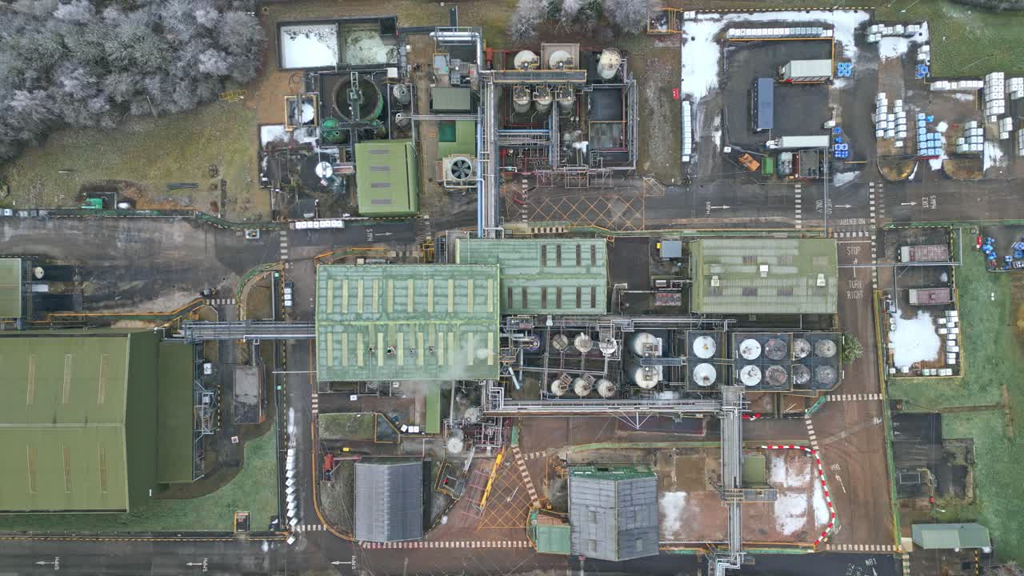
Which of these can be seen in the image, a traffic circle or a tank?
tank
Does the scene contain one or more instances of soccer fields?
No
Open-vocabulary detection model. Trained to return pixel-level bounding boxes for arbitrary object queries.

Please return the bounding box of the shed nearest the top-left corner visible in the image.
[81,191,120,209]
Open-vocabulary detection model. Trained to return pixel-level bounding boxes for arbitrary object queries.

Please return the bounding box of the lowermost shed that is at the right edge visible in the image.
[905,520,991,549]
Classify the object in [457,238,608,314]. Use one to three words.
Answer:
building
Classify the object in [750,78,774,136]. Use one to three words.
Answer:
trailer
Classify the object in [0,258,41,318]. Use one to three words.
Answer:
shed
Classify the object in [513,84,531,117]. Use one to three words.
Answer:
silo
